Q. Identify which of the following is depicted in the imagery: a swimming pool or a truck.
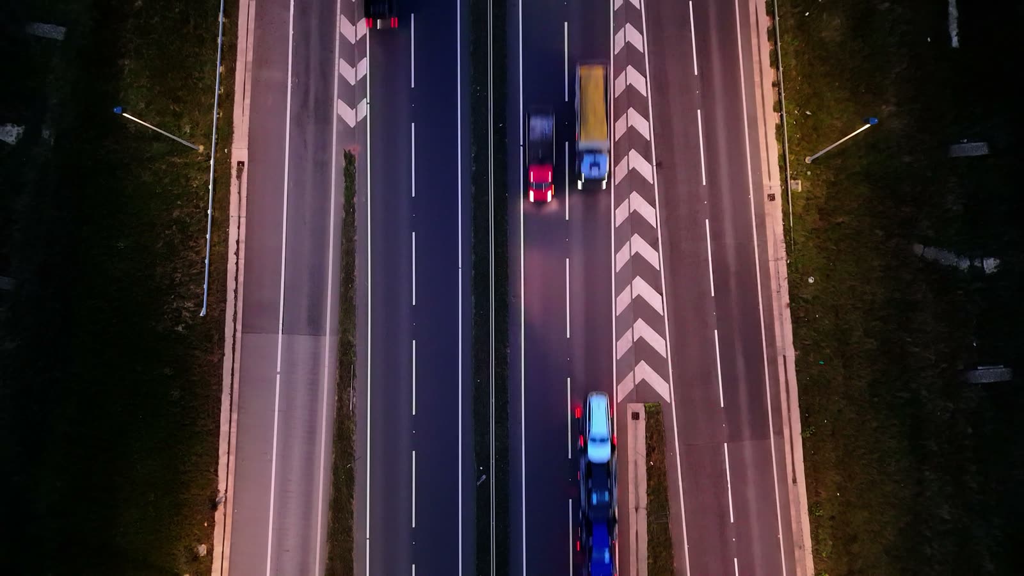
truck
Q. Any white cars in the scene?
No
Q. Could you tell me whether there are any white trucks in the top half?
No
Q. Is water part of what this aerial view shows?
No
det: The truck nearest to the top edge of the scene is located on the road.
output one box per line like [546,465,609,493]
[364,0,400,29]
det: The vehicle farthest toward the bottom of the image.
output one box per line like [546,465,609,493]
[584,522,613,576]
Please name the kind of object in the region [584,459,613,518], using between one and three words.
car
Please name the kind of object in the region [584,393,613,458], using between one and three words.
car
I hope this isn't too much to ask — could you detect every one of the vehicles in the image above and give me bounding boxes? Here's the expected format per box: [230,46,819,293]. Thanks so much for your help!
[364,0,400,29]
[584,459,613,518]
[576,390,616,576]
[574,65,611,189]
[526,115,555,202]
[584,522,613,576]
[584,393,613,458]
